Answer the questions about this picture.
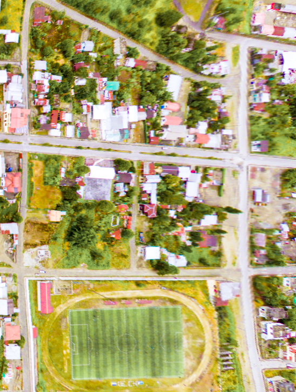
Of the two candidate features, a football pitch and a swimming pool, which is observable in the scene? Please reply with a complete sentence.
This aerial view contains a football pitch.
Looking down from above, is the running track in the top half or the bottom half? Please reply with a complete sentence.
It is in the bottom half that the running track appears.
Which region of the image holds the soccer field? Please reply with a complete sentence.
You can find the soccer field in the bottom area of the picture.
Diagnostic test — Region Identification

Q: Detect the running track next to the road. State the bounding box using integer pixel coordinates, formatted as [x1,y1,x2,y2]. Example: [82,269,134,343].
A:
[41,290,213,392]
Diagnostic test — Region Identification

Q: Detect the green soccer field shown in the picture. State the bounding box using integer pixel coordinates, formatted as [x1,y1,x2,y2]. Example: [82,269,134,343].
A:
[69,306,187,380]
